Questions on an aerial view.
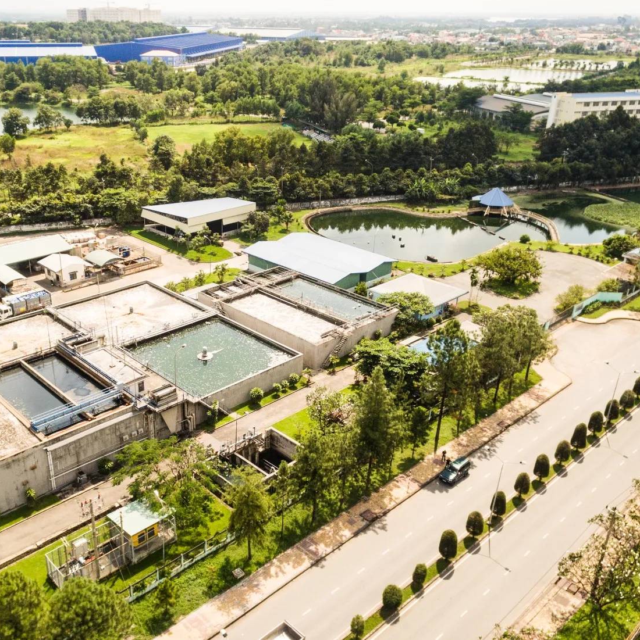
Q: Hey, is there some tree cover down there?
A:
Yes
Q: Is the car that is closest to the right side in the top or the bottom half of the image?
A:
bottom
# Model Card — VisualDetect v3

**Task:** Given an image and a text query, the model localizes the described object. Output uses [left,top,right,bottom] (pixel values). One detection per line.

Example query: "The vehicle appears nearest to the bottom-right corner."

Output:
[443,457,477,485]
